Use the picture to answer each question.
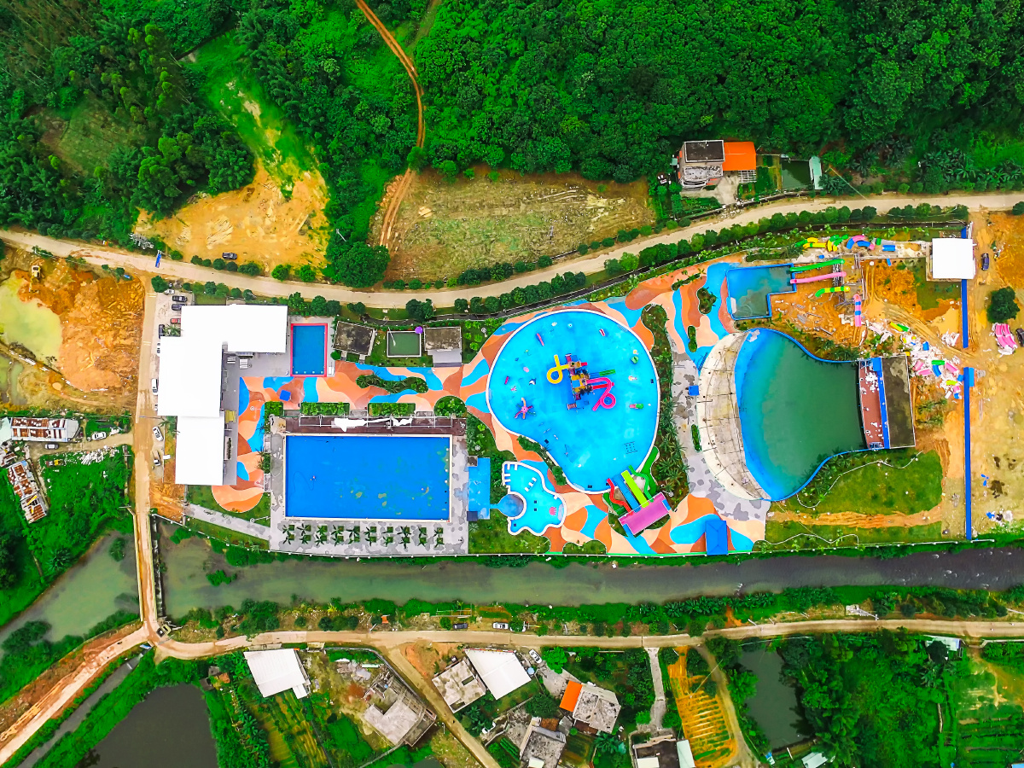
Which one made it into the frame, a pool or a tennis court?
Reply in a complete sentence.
Of the two, only a pool appears.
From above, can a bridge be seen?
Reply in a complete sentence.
Yes, a bridge appears in the view.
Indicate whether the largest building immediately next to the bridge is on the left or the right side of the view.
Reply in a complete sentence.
You can find the largest building immediately next to the bridge on the left side of the picture.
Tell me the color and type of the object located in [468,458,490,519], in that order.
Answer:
blue swimming pool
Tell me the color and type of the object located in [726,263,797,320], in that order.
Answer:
blue swimming pool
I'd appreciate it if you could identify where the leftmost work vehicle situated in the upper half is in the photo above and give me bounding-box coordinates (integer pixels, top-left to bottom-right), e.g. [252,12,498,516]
[22,262,41,296]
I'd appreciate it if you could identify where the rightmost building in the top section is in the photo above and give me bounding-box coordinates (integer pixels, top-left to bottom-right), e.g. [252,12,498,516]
[926,238,975,281]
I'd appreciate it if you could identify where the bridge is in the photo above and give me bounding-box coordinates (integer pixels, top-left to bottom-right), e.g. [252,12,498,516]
[127,507,159,621]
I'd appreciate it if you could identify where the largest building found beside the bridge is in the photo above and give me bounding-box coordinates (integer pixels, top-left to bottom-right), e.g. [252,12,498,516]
[158,305,292,486]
